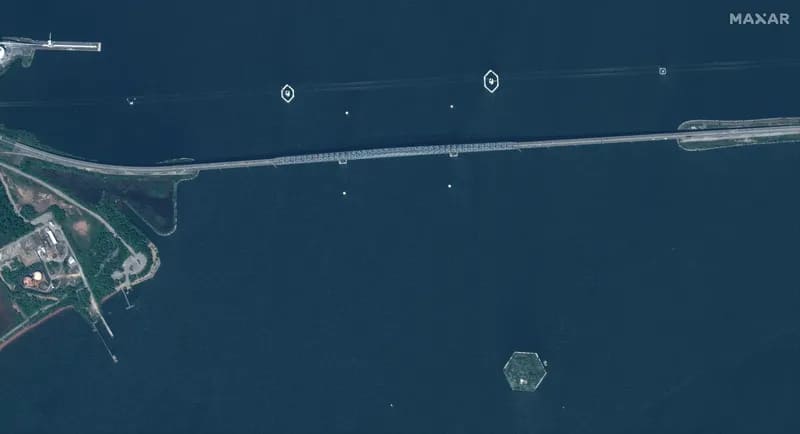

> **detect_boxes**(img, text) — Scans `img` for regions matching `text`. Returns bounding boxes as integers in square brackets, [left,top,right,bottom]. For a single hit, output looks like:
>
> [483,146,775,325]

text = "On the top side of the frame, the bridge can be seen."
[12,126,800,173]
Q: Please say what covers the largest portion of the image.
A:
water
